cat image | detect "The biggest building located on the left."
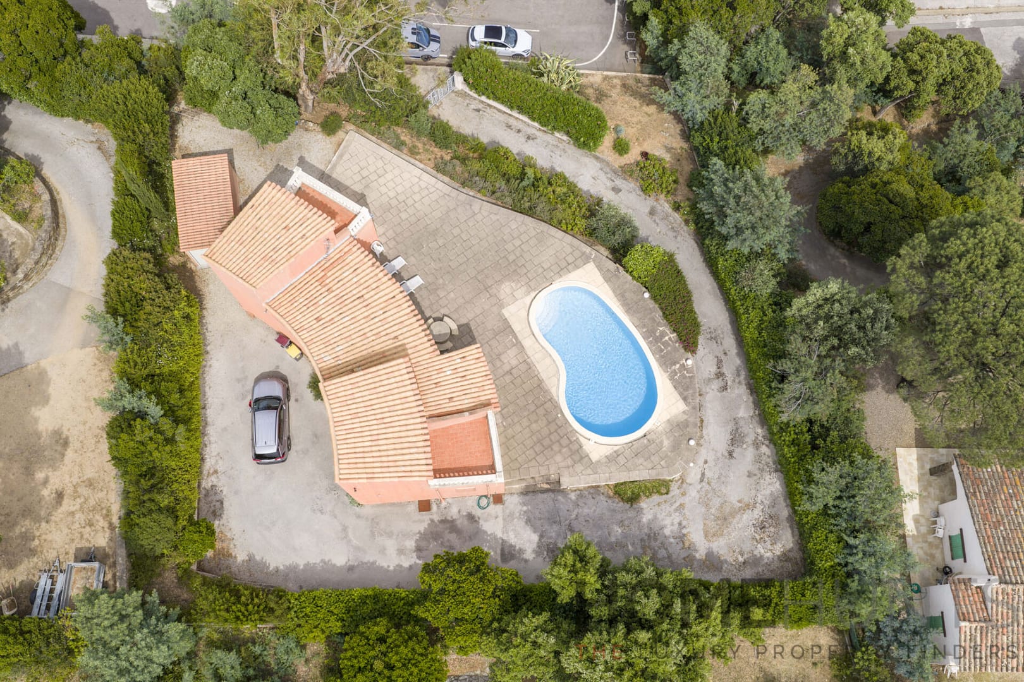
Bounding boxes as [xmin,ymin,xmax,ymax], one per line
[201,167,504,504]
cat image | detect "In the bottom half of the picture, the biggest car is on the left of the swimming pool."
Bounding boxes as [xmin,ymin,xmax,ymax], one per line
[242,373,295,470]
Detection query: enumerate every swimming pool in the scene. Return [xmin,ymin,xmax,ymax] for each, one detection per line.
[529,280,665,444]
